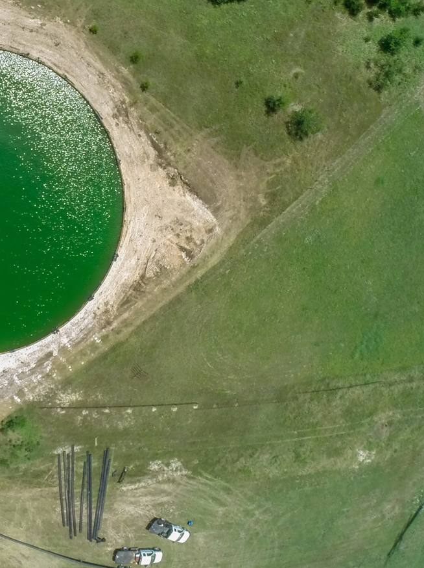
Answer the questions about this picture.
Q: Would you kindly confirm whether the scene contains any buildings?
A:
No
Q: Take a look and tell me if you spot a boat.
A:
No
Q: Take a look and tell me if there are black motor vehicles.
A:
No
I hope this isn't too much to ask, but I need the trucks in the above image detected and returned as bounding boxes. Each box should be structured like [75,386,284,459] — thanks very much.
[146,515,190,543]
[114,546,161,568]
